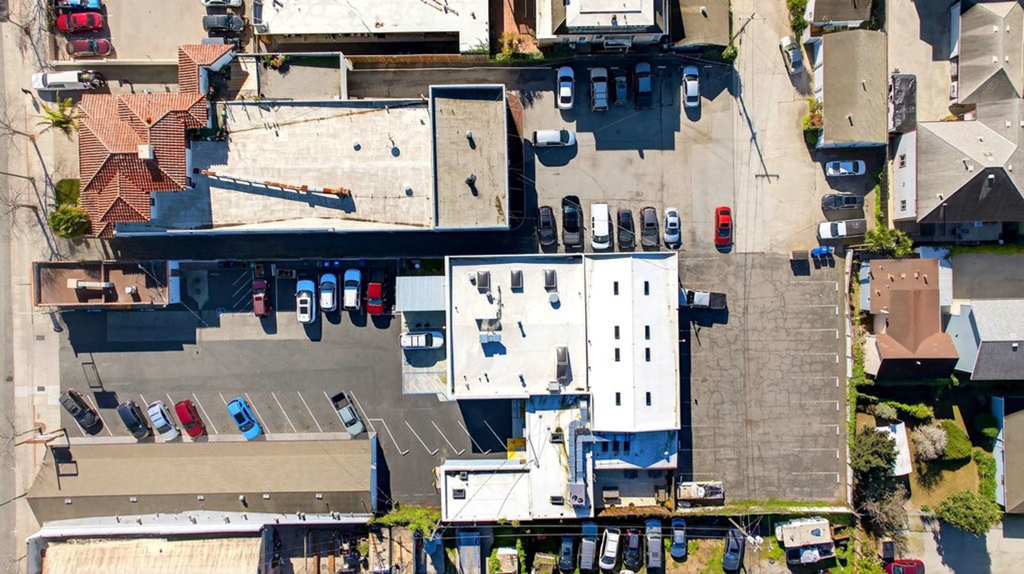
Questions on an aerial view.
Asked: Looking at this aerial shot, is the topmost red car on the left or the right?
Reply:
left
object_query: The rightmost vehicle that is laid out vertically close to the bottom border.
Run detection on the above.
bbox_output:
[723,527,745,571]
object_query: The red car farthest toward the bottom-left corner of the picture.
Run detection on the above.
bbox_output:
[173,398,207,440]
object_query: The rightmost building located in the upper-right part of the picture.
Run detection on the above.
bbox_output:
[888,1,1024,241]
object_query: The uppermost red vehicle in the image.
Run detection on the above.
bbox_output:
[57,10,106,33]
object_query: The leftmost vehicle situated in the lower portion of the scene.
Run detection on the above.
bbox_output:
[61,388,100,435]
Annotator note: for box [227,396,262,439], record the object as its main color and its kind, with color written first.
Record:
blue car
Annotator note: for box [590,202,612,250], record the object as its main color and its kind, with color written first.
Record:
white vehicle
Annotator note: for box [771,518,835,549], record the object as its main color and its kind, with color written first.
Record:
white camper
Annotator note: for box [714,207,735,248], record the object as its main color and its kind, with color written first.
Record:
red car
